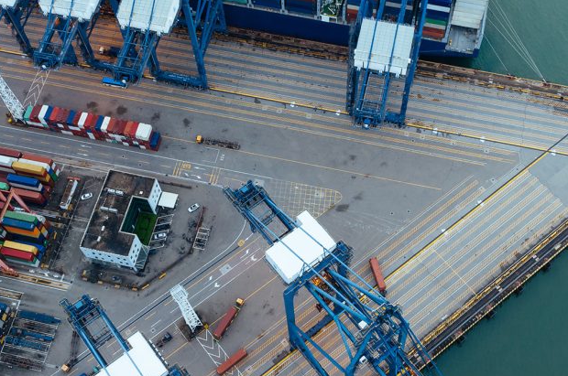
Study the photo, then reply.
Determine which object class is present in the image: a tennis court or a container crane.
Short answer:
container crane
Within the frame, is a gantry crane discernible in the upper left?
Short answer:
Yes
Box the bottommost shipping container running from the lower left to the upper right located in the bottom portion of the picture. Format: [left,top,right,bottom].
[215,348,247,376]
